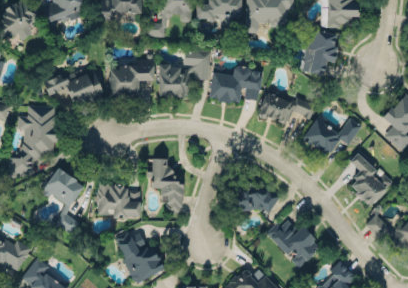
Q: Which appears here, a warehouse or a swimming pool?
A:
swimming pool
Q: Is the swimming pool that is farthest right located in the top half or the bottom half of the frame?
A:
bottom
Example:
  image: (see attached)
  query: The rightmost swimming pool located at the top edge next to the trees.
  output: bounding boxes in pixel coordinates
[306,0,320,24]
